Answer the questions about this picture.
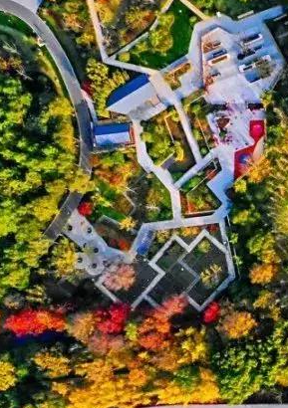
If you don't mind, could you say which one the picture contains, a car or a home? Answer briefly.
home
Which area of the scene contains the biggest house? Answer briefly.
top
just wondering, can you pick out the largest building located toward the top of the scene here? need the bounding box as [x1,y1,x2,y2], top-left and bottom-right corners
[106,71,167,126]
